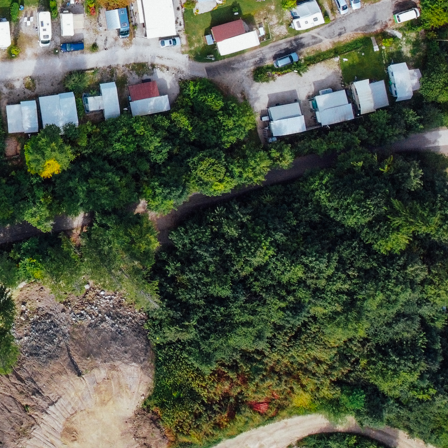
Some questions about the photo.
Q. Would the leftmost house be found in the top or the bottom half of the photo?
top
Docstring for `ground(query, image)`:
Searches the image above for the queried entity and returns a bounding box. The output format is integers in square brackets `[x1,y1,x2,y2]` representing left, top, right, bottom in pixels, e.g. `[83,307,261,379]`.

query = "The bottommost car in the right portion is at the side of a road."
[274,52,299,67]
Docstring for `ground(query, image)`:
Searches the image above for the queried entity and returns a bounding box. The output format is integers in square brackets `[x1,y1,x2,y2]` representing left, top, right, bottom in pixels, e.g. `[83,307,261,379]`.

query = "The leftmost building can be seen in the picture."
[5,101,37,133]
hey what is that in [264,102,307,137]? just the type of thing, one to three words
house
